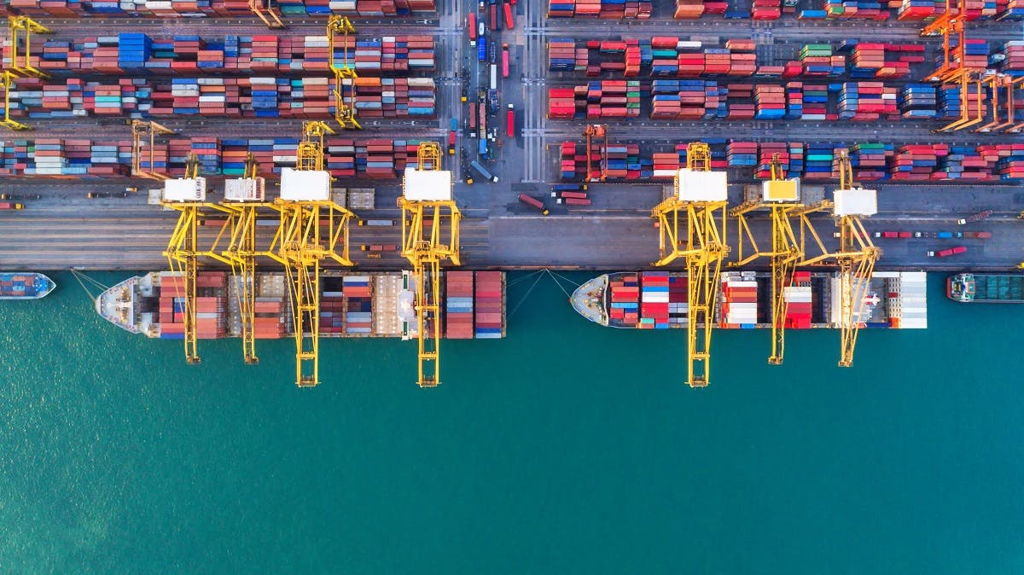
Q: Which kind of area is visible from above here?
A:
port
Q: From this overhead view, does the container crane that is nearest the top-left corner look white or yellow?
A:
yellow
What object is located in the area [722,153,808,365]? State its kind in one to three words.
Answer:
container crane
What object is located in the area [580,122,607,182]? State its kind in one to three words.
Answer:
container crane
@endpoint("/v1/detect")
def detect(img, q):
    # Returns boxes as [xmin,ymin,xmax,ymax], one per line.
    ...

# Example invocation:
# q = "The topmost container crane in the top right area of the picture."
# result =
[920,0,965,34]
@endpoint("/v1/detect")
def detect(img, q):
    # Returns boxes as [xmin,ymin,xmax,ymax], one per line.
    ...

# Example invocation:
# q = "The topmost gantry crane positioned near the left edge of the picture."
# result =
[11,14,59,79]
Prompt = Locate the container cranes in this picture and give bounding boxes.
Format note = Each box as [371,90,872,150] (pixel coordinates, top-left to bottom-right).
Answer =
[785,148,881,367]
[0,68,39,131]
[11,14,59,79]
[219,152,296,365]
[580,122,607,182]
[921,17,966,80]
[401,143,464,387]
[650,143,730,387]
[250,0,286,29]
[334,68,365,131]
[722,153,808,365]
[303,120,335,169]
[278,141,357,387]
[132,120,176,182]
[329,13,360,78]
[937,67,985,132]
[156,154,250,365]
[966,67,1014,134]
